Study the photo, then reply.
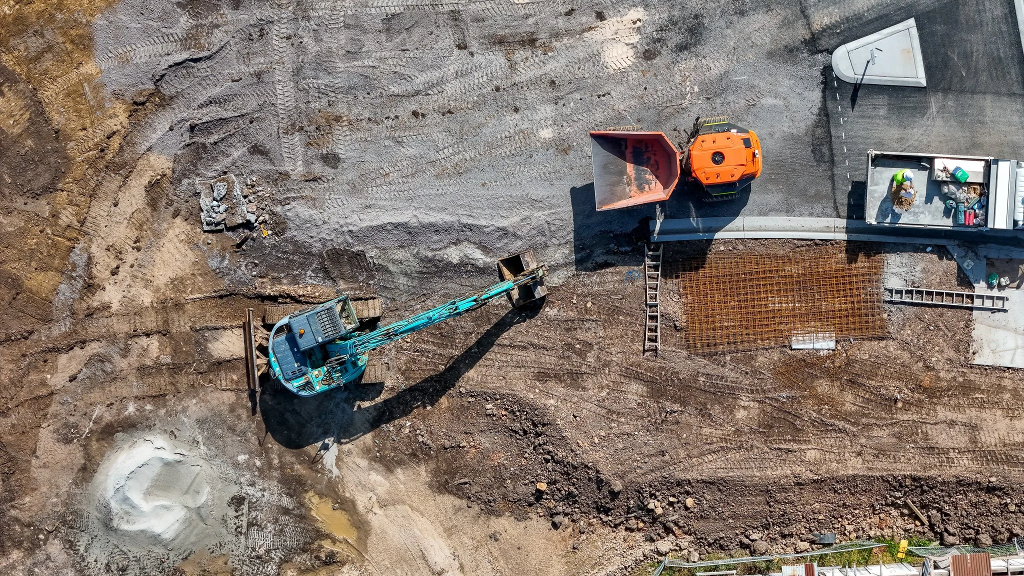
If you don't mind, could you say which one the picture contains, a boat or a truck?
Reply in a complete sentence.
The one in the frame is a truck.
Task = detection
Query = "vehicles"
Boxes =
[243,246,555,398]
[589,114,762,211]
[863,149,1024,233]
